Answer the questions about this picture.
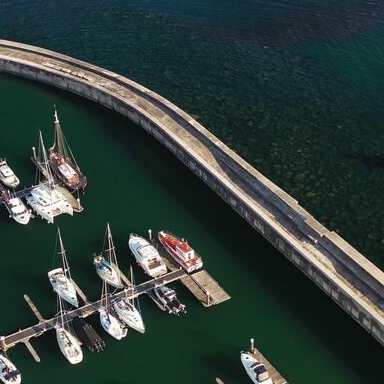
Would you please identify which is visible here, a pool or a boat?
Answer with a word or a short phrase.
boat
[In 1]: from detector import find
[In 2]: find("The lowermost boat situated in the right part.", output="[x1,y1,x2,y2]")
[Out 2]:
[240,352,273,384]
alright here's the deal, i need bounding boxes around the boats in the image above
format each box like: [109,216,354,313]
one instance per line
[0,341,22,384]
[95,274,130,343]
[111,264,147,335]
[77,319,108,357]
[5,197,31,227]
[91,221,126,296]
[45,227,85,315]
[46,107,96,193]
[52,284,84,369]
[130,234,170,279]
[240,352,273,384]
[0,150,22,191]
[153,284,184,318]
[159,228,208,279]
[27,133,80,230]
